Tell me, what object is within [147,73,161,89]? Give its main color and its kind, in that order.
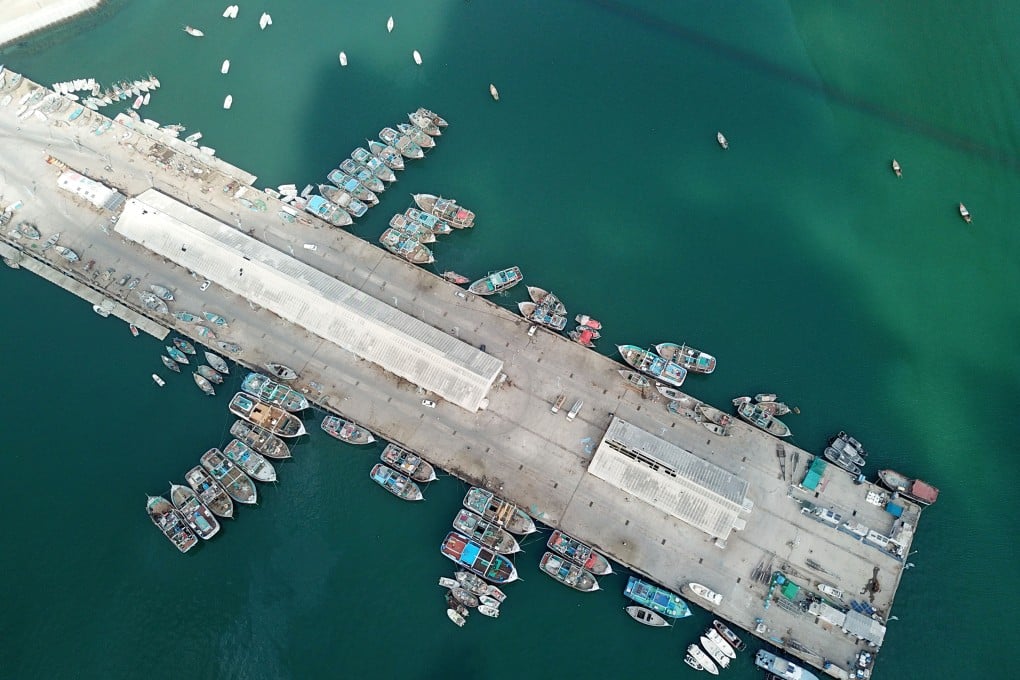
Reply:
white boat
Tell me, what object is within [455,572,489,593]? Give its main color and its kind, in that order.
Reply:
gray boat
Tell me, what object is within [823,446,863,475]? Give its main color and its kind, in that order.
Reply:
gray boat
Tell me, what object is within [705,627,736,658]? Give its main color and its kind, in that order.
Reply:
white boat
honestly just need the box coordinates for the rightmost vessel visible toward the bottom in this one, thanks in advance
[875,468,939,506]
